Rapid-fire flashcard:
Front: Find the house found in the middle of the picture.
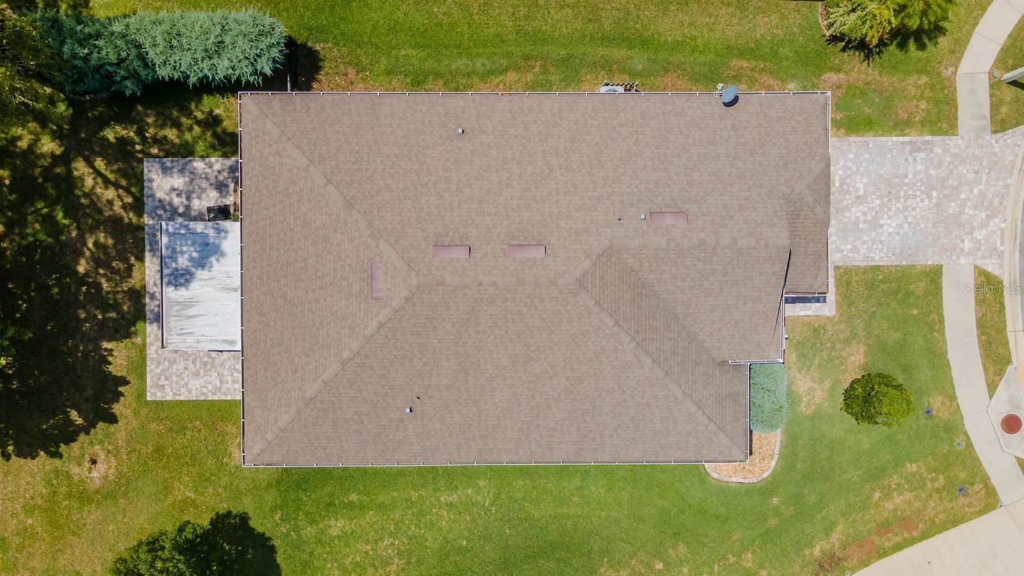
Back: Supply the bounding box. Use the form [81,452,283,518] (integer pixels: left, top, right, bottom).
[239,91,831,471]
